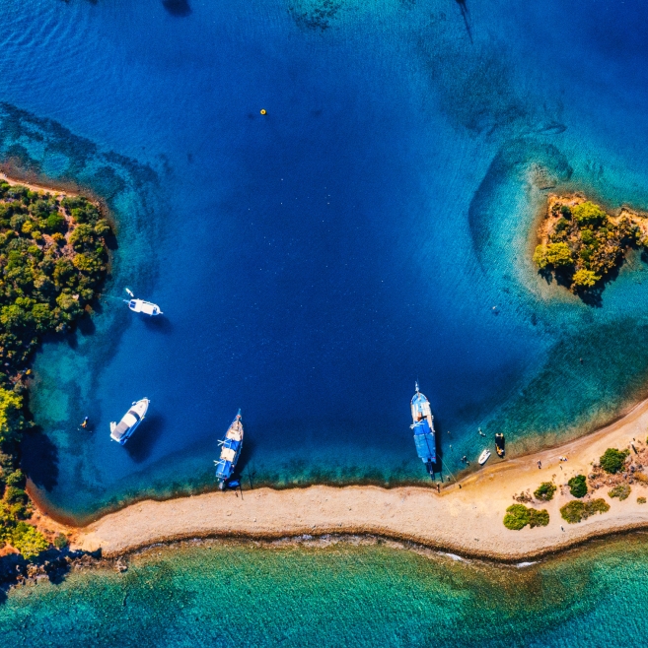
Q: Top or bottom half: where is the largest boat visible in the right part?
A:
bottom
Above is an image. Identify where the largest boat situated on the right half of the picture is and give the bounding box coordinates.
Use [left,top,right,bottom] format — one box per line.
[412,382,439,481]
